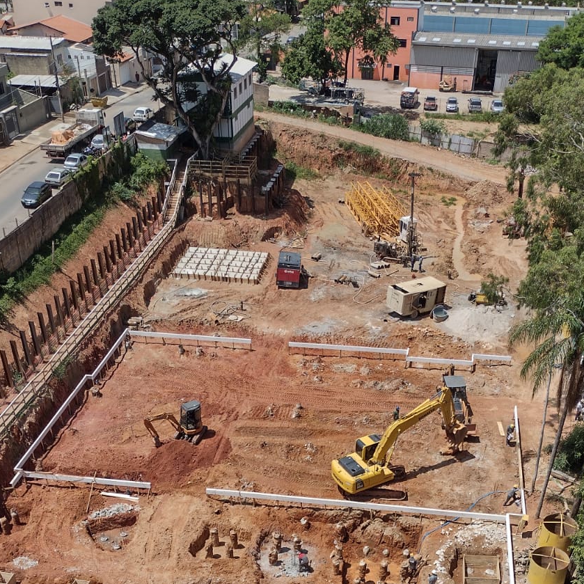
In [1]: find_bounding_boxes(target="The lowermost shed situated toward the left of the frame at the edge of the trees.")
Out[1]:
[131,115,195,172]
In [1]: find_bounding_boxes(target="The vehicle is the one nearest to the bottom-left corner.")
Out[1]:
[135,390,213,443]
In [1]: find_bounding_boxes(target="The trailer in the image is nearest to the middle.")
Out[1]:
[390,263,449,313]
